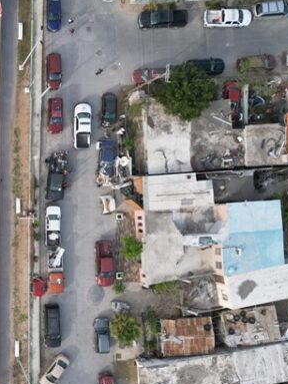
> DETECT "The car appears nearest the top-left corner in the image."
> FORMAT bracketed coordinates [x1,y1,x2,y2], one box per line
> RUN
[44,0,62,34]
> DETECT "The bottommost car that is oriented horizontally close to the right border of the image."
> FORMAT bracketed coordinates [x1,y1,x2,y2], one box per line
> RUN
[234,53,275,74]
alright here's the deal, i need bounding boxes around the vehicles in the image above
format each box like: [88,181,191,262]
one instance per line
[47,153,67,200]
[136,8,189,29]
[97,369,114,384]
[185,57,225,77]
[202,7,251,29]
[221,80,243,127]
[234,53,275,74]
[45,53,63,90]
[94,239,115,287]
[44,205,62,246]
[43,303,62,346]
[45,248,65,294]
[100,92,119,130]
[251,0,288,20]
[92,317,111,352]
[46,97,63,134]
[72,103,93,150]
[37,351,71,384]
[130,67,171,86]
[44,0,62,34]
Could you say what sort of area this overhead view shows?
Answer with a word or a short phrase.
residential area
